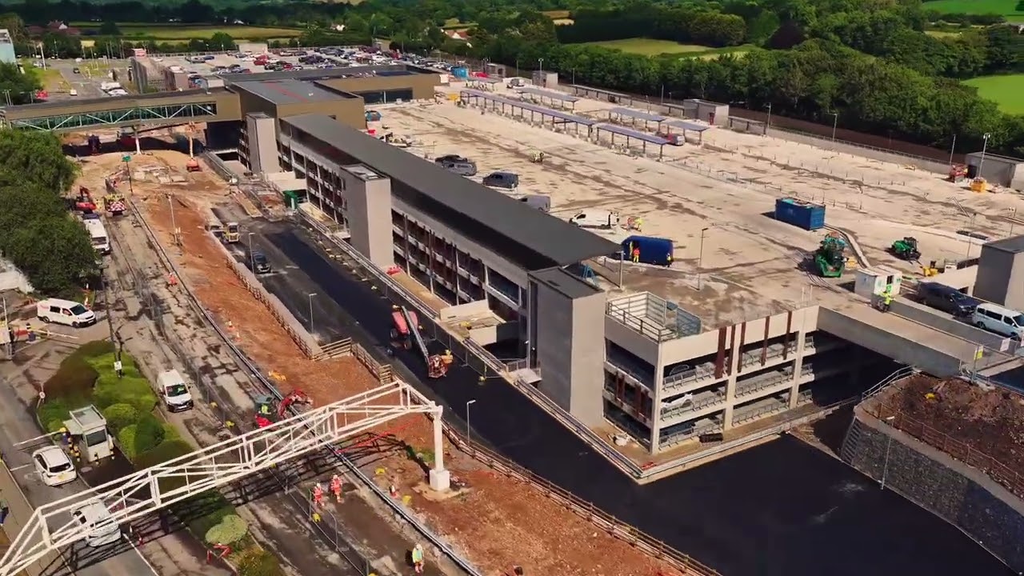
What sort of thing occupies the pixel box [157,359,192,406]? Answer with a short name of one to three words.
van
